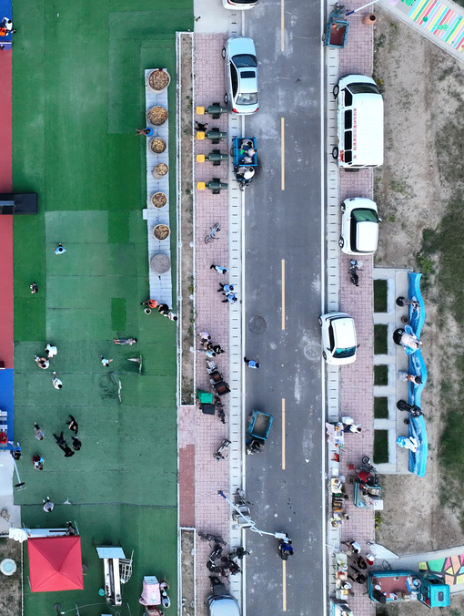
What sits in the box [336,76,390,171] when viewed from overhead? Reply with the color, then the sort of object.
white vehicle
